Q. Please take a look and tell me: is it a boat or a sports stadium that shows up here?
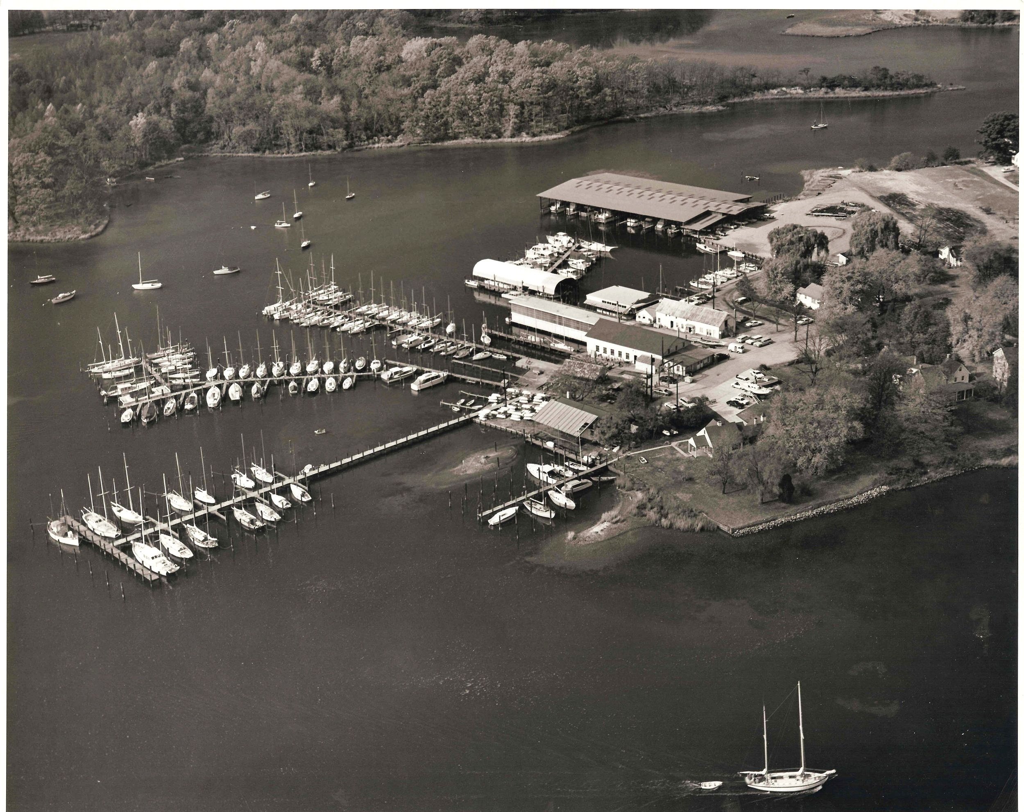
boat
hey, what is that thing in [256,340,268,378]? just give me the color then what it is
white boat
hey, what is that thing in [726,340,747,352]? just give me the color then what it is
white vehicle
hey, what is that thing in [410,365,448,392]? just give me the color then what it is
white boat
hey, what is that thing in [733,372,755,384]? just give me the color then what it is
white vehicle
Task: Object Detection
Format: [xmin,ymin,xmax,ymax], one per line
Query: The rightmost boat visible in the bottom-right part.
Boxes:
[743,682,835,794]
